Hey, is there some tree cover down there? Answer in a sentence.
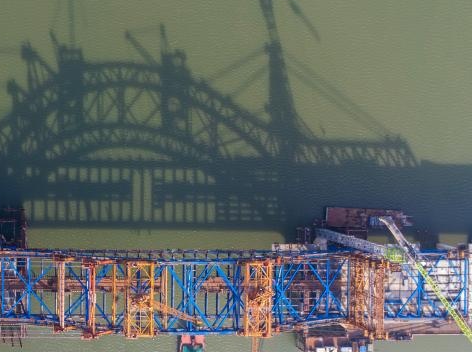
No, the picture contains no tree cover.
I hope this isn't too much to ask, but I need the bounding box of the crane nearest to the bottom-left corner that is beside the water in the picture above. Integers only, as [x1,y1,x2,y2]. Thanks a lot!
[120,256,198,335]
